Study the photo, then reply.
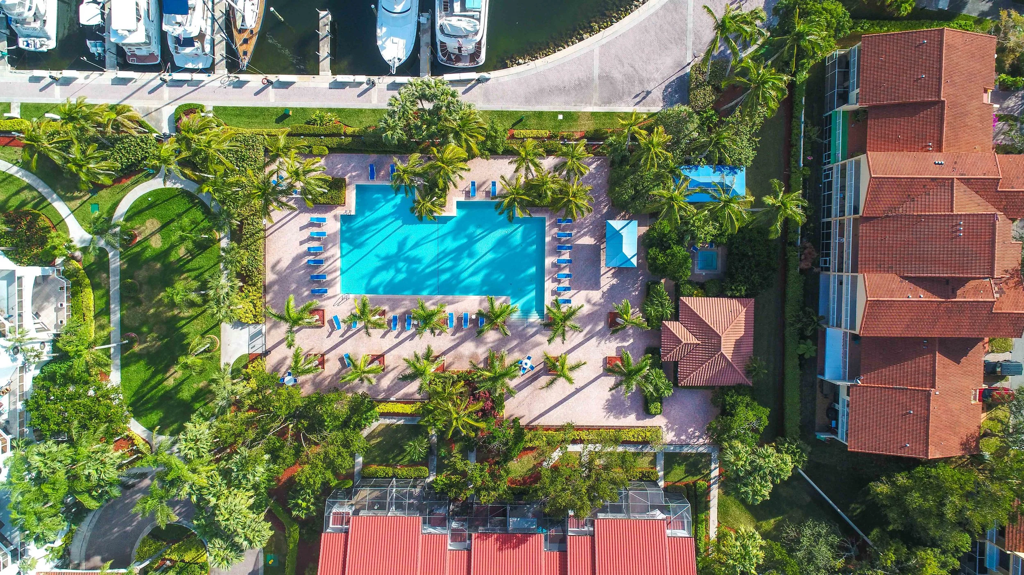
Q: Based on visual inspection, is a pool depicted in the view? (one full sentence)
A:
Yes, this view includes a pool.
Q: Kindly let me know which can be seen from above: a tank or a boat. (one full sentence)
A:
I can see a boat in this picture.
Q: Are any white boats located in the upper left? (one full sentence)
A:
Yes, the scene does show a white boat in the upper left.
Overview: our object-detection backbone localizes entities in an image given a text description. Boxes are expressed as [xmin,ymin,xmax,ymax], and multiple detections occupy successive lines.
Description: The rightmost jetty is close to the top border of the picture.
[420,13,432,76]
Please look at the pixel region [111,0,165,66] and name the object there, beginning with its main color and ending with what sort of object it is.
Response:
white boat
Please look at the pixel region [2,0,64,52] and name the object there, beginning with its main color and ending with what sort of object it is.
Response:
white boat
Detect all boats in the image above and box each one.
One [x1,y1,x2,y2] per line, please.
[202,0,267,71]
[2,0,64,52]
[435,0,488,70]
[111,0,165,66]
[163,0,215,71]
[16,36,51,53]
[79,0,108,58]
[376,0,419,74]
